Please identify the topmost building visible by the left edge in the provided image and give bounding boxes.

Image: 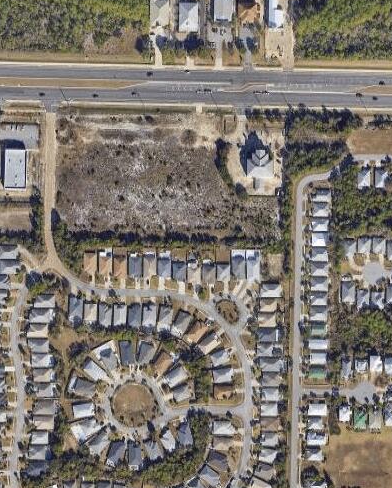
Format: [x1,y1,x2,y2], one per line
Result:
[5,149,25,188]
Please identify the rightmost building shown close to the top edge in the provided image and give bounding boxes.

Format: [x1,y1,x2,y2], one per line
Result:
[268,0,283,27]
